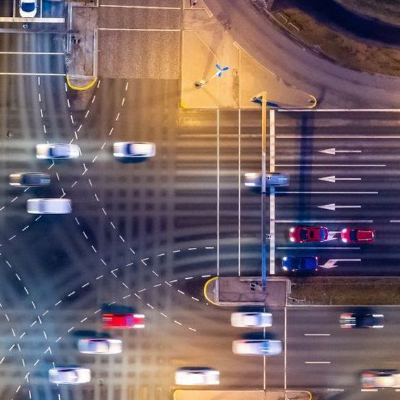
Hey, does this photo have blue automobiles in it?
Yes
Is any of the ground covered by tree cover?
No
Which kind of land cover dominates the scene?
paved ground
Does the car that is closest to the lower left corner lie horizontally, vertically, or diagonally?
horizontally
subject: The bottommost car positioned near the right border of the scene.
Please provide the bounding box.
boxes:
[362,369,400,388]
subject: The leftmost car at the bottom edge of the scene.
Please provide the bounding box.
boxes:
[49,365,90,385]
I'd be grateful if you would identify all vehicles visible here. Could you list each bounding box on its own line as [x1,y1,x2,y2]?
[340,225,375,245]
[10,170,51,188]
[27,196,70,215]
[341,310,382,329]
[19,0,38,18]
[102,311,143,330]
[230,310,270,329]
[233,337,280,356]
[289,225,329,244]
[36,141,79,160]
[176,367,219,386]
[78,336,121,355]
[362,369,400,388]
[113,141,155,159]
[49,365,90,385]
[282,254,320,273]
